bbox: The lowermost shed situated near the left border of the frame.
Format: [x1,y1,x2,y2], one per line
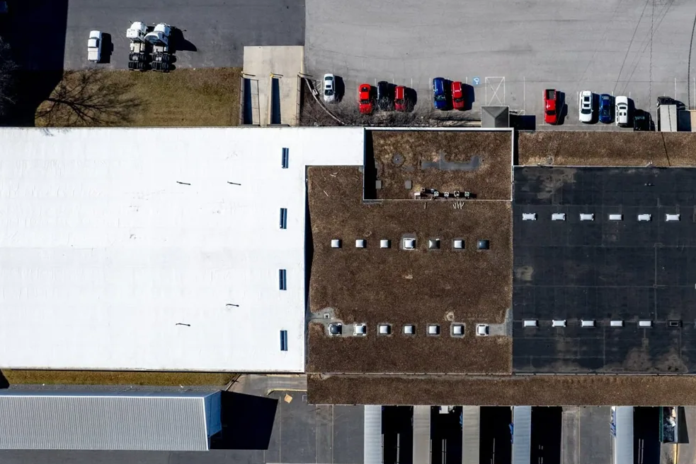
[0,389,221,450]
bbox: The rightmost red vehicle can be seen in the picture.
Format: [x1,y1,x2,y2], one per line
[543,88,560,124]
